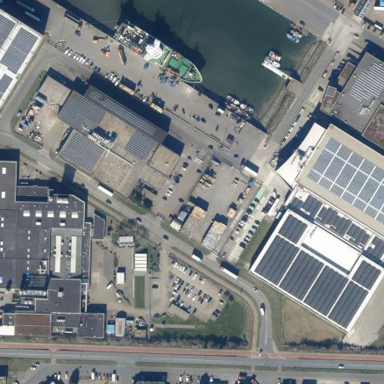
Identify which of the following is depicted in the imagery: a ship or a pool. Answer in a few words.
ship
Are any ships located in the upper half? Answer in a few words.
Yes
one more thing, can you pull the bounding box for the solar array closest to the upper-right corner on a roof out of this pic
[350,63,384,101]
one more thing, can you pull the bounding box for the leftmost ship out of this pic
[115,20,203,80]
